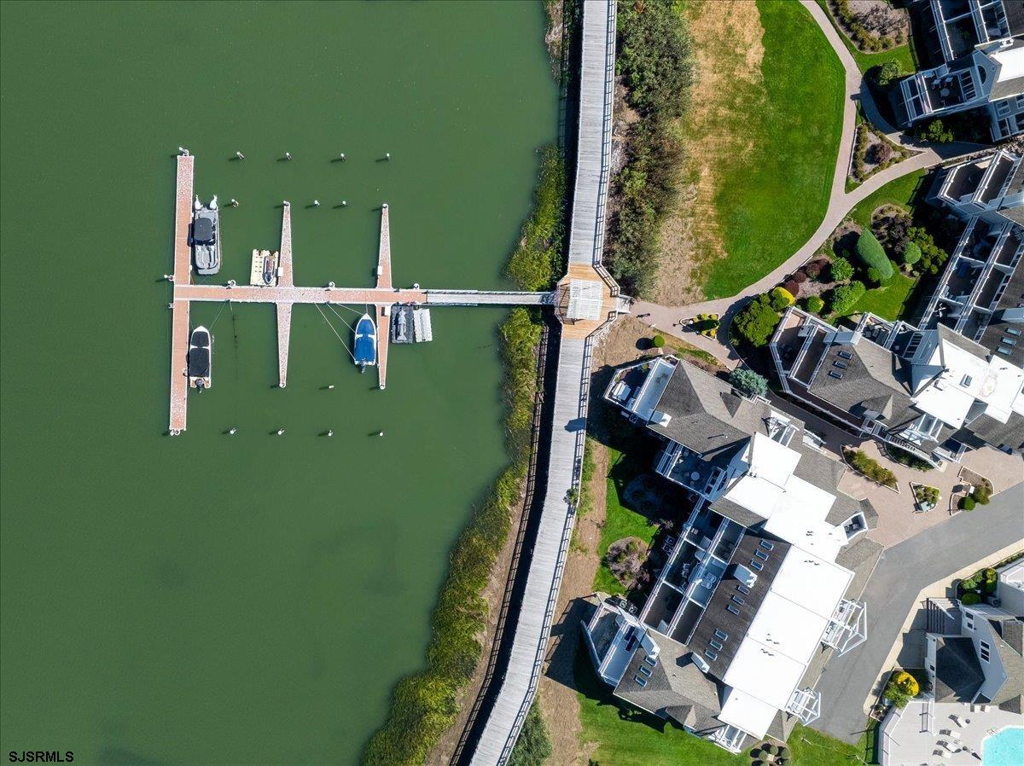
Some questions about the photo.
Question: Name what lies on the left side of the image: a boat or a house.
boat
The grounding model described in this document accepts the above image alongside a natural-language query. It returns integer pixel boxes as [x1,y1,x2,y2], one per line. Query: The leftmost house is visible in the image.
[580,357,884,756]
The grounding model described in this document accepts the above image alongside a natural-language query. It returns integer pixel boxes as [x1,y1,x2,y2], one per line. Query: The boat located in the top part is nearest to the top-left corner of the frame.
[187,192,224,274]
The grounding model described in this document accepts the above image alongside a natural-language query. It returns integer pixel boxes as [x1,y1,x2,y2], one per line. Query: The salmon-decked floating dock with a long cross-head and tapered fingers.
[170,156,427,429]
